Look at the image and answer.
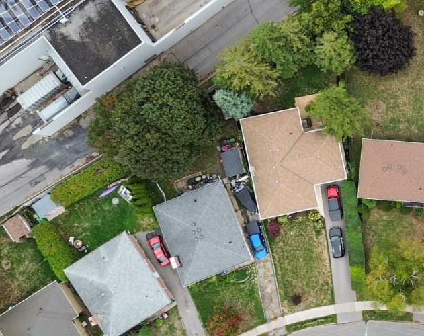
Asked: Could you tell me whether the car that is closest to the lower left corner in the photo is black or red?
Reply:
red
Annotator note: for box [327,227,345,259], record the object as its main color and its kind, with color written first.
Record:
gray car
